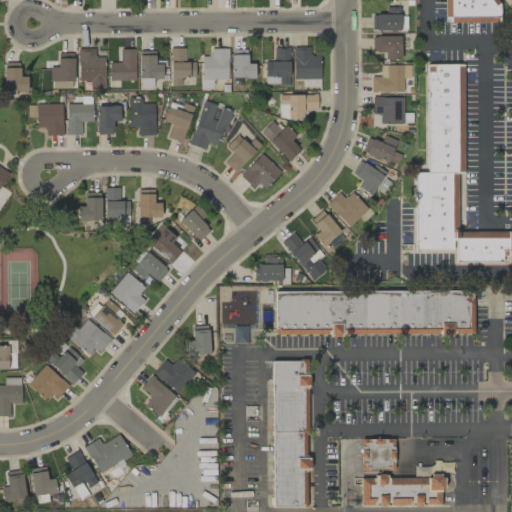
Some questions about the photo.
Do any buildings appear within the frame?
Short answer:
Yes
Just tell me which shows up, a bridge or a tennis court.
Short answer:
tennis court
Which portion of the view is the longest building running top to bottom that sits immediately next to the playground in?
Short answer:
bottom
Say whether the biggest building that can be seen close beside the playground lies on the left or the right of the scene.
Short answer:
right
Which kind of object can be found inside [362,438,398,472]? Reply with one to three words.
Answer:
building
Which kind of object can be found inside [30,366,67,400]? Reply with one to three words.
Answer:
house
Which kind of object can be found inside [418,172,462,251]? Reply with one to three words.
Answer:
building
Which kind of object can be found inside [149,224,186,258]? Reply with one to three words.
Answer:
house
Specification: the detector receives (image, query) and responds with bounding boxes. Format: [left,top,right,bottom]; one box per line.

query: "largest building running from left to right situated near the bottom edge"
[364,475,446,507]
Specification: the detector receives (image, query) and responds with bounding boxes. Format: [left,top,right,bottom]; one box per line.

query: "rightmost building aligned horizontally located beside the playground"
[278,290,478,338]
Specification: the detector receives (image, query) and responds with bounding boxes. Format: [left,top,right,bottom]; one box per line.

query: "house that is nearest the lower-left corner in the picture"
[4,471,27,503]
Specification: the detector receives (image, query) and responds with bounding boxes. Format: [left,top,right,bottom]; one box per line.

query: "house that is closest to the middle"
[256,254,292,285]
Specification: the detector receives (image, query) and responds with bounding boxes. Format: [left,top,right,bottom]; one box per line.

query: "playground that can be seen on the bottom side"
[222,291,274,336]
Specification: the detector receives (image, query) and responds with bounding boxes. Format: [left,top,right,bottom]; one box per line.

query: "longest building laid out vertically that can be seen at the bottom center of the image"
[274,360,314,507]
